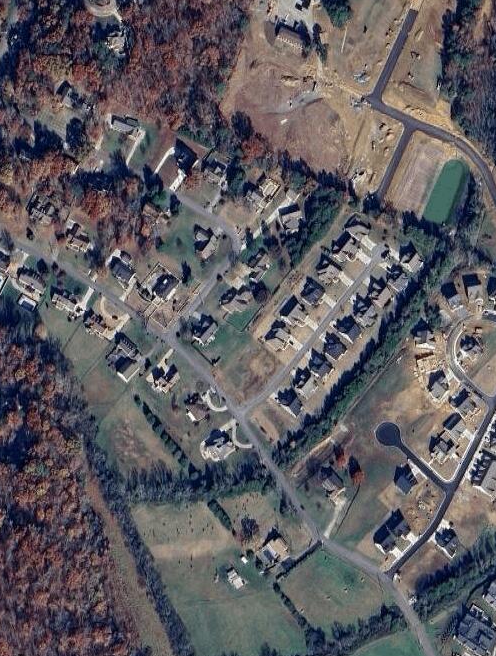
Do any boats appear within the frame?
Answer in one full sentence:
No, the photo shows no boat.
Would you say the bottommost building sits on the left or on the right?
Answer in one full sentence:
The bottommost building appears in the right half of the scene.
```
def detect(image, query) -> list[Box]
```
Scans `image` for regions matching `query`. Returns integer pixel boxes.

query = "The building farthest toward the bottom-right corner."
[454,610,496,655]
